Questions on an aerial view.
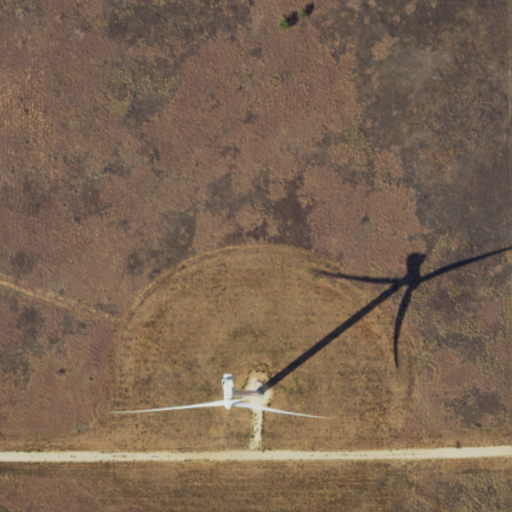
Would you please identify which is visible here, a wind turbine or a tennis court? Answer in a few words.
wind turbine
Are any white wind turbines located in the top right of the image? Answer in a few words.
No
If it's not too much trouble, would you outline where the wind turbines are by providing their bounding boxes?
[106,374,324,420]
